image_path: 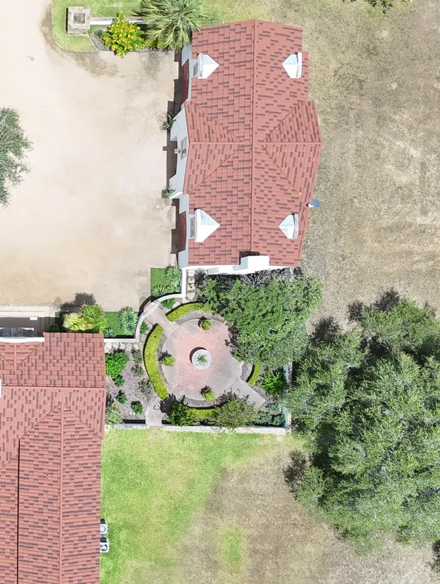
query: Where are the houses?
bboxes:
[171,17,322,274]
[0,327,109,584]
